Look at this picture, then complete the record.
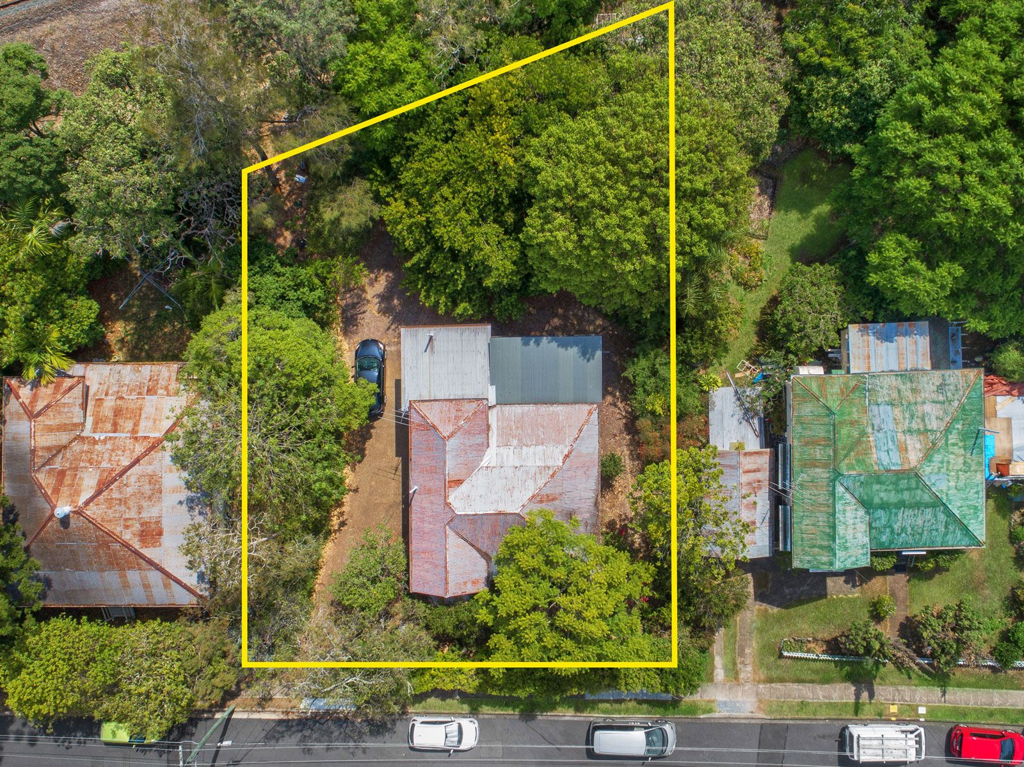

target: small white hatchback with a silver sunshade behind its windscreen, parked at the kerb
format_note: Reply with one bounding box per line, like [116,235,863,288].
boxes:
[409,714,479,754]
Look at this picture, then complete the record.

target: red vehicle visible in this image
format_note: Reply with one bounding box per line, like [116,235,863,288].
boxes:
[952,722,1024,765]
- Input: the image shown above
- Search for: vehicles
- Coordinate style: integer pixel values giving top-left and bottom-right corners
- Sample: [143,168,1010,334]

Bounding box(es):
[952,722,1024,765]
[102,711,174,749]
[409,714,479,754]
[839,721,926,765]
[351,339,389,419]
[588,714,675,758]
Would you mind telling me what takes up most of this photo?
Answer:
trees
